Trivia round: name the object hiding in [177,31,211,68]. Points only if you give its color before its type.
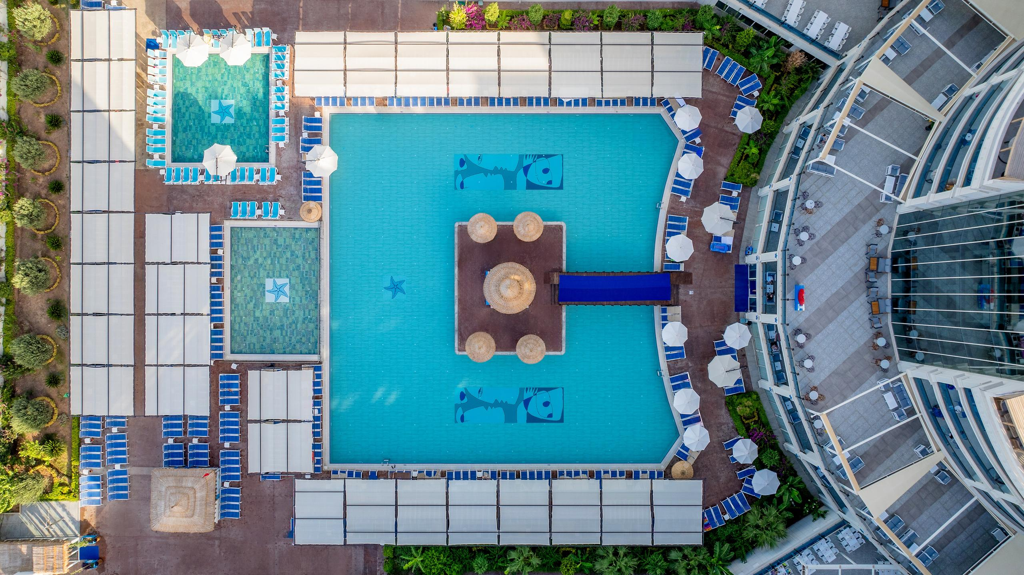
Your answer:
white umbrella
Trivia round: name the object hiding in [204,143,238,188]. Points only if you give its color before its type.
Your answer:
white umbrella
